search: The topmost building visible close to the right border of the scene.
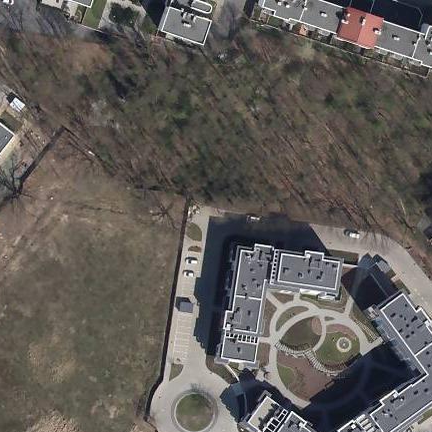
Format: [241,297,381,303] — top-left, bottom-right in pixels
[263,0,432,68]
